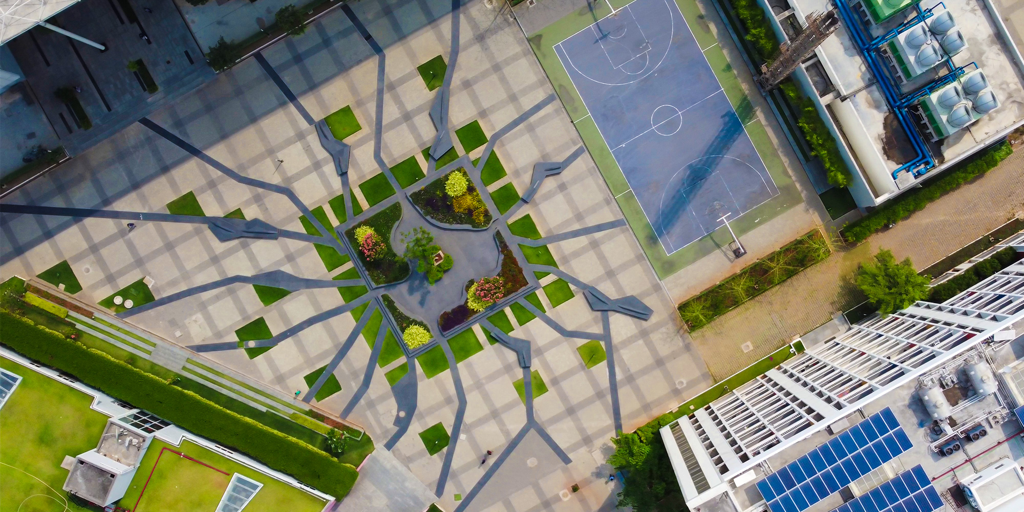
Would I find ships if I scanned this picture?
No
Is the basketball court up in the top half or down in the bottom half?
top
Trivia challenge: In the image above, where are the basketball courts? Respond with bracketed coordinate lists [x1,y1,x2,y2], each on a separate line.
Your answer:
[531,0,804,279]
